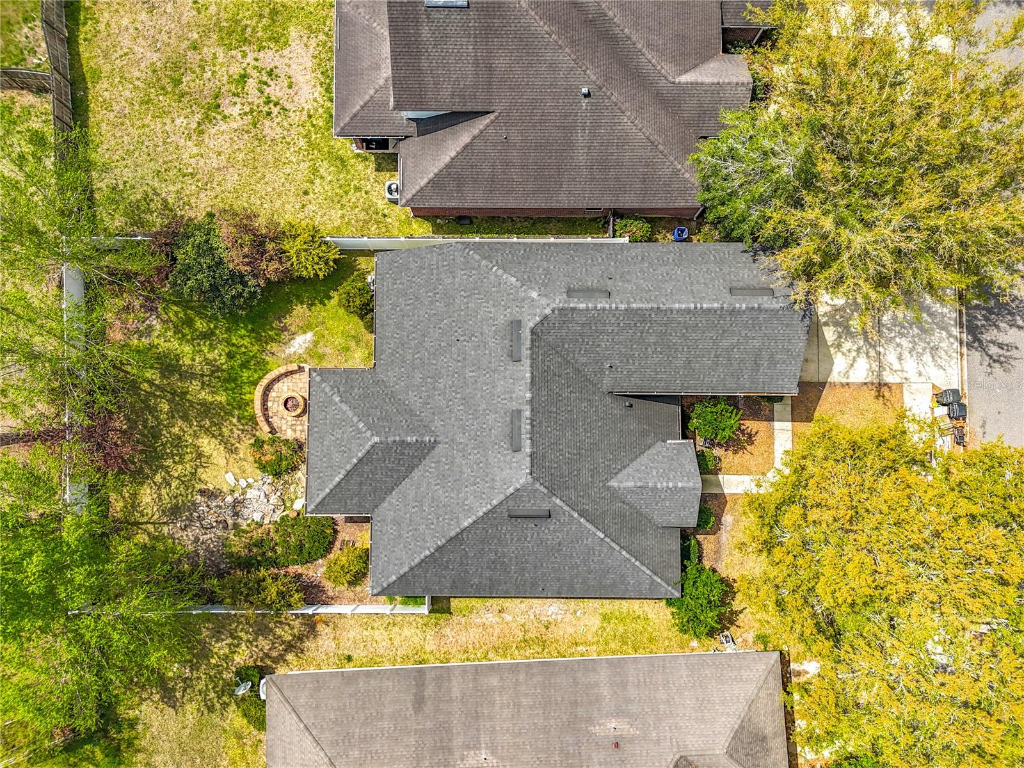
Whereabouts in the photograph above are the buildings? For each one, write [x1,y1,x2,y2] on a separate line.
[264,646,787,768]
[331,0,787,220]
[304,242,813,599]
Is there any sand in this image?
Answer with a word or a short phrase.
No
